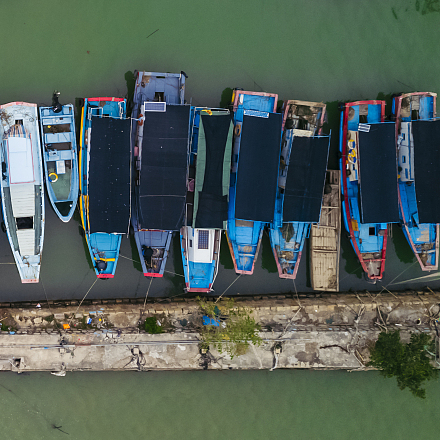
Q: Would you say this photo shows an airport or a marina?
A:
marina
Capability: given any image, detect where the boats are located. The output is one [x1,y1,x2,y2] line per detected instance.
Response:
[0,102,45,283]
[226,89,282,273]
[388,92,440,270]
[269,99,331,277]
[77,97,131,278]
[130,71,190,277]
[332,101,400,278]
[39,97,79,218]
[180,106,234,292]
